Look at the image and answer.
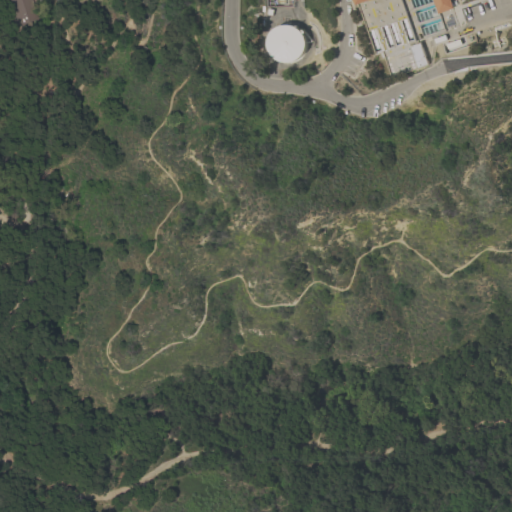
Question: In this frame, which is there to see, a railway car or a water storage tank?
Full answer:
Of the two, only a water storage tank appears.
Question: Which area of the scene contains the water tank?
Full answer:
The water tank is located in the top region of the scene.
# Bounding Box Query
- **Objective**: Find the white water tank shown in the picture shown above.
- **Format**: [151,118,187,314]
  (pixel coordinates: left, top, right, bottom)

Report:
[264,24,314,65]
